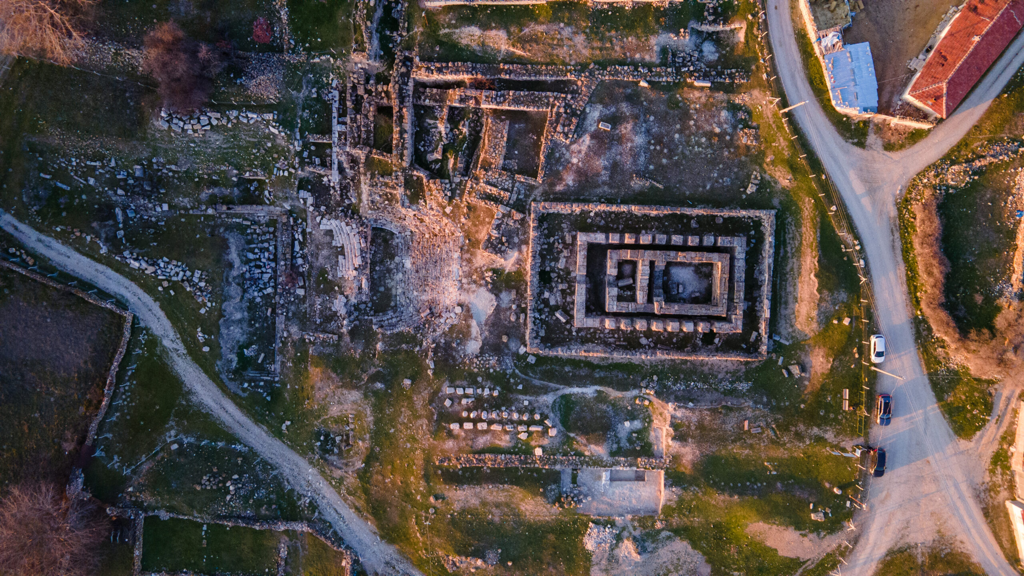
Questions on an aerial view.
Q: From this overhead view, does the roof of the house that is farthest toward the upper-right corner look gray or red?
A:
red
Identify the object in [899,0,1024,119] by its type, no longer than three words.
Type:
house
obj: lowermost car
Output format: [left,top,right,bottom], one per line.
[871,450,887,477]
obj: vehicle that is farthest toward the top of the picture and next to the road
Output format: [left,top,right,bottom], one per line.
[869,336,885,363]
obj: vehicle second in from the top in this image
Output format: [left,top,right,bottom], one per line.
[876,396,892,423]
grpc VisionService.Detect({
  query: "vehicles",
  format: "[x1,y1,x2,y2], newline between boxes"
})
[871,450,887,477]
[876,396,892,423]
[869,336,885,363]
